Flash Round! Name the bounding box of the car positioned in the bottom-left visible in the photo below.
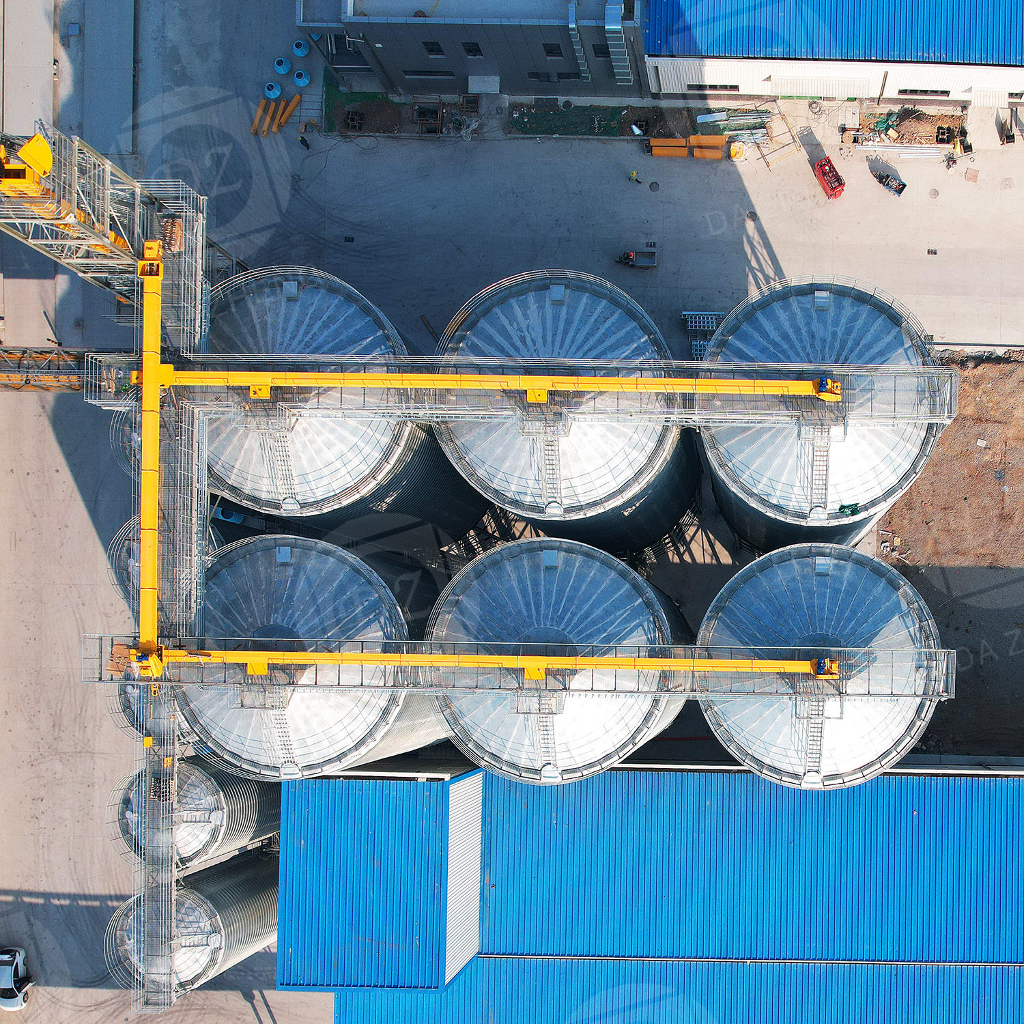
[0,946,37,1010]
